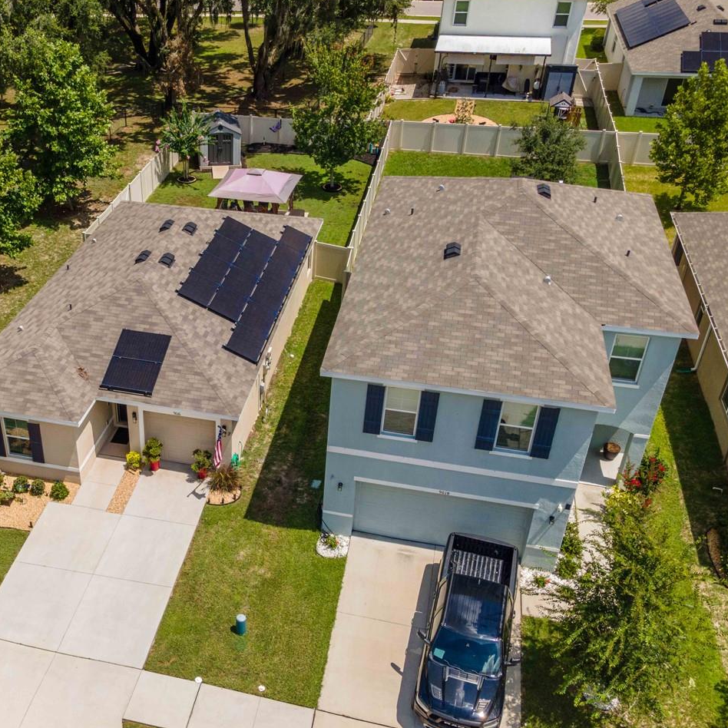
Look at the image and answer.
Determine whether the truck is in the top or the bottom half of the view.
bottom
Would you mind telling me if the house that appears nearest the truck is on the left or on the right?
right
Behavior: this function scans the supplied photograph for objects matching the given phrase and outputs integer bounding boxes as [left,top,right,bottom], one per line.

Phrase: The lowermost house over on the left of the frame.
[0,203,325,482]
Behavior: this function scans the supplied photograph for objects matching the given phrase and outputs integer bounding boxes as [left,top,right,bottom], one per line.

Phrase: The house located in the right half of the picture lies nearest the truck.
[318,175,702,570]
